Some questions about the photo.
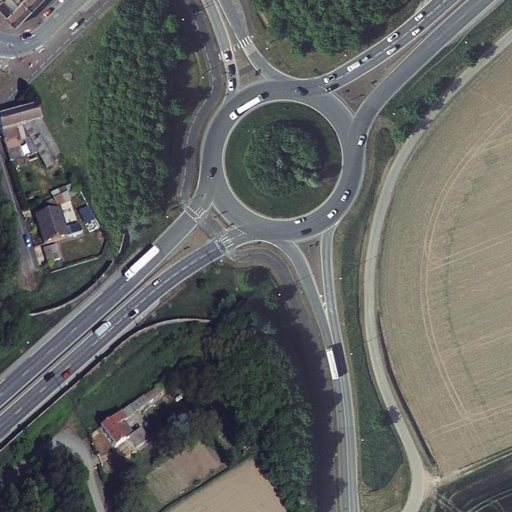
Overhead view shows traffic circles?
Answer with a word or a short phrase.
Yes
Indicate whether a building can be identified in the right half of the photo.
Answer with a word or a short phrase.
No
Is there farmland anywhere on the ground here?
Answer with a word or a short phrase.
Yes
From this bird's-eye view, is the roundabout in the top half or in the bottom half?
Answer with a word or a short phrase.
top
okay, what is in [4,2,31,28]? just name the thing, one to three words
house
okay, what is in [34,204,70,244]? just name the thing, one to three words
house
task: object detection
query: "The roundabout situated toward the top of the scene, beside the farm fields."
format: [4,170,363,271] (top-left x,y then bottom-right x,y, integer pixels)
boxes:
[201,78,364,242]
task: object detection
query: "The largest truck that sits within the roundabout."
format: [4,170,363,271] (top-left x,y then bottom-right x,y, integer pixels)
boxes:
[232,94,264,118]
